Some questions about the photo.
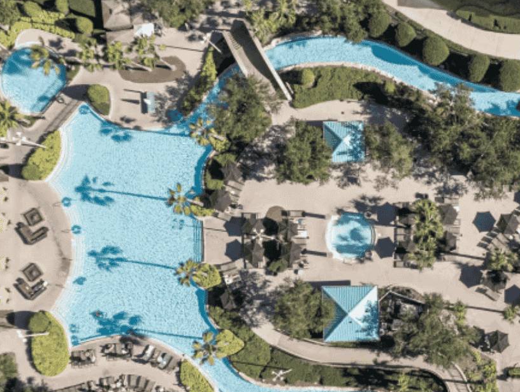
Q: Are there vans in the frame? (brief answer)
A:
No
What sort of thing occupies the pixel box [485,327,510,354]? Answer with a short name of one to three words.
umbrella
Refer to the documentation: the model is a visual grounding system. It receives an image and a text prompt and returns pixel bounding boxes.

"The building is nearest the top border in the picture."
[102,0,143,29]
